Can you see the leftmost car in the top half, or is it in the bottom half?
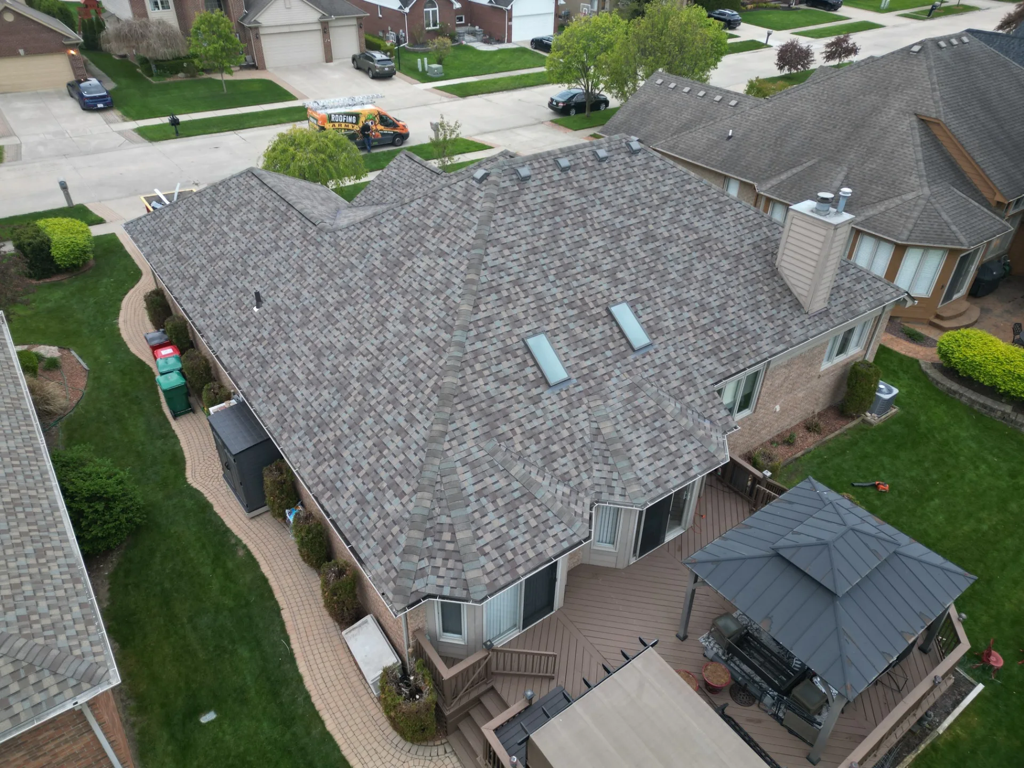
top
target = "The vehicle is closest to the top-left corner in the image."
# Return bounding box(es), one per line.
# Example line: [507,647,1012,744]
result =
[67,79,111,108]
